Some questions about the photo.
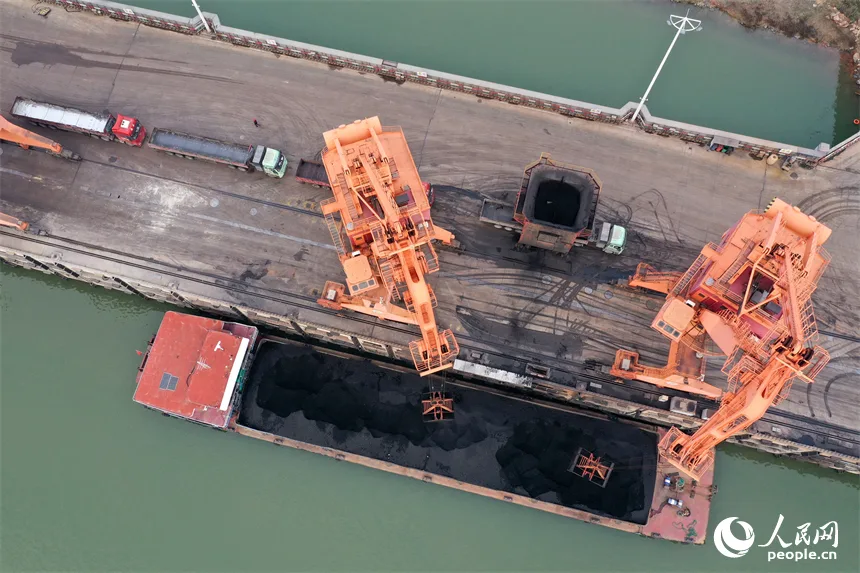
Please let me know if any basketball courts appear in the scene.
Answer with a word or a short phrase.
No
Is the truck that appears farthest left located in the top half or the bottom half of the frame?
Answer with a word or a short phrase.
top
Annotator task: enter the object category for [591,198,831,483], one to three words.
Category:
crane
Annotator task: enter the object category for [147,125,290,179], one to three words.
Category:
truck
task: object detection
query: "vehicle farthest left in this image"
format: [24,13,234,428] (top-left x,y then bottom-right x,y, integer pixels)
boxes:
[10,93,152,147]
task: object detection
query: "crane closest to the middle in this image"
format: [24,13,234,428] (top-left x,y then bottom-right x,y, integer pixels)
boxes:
[316,113,472,376]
